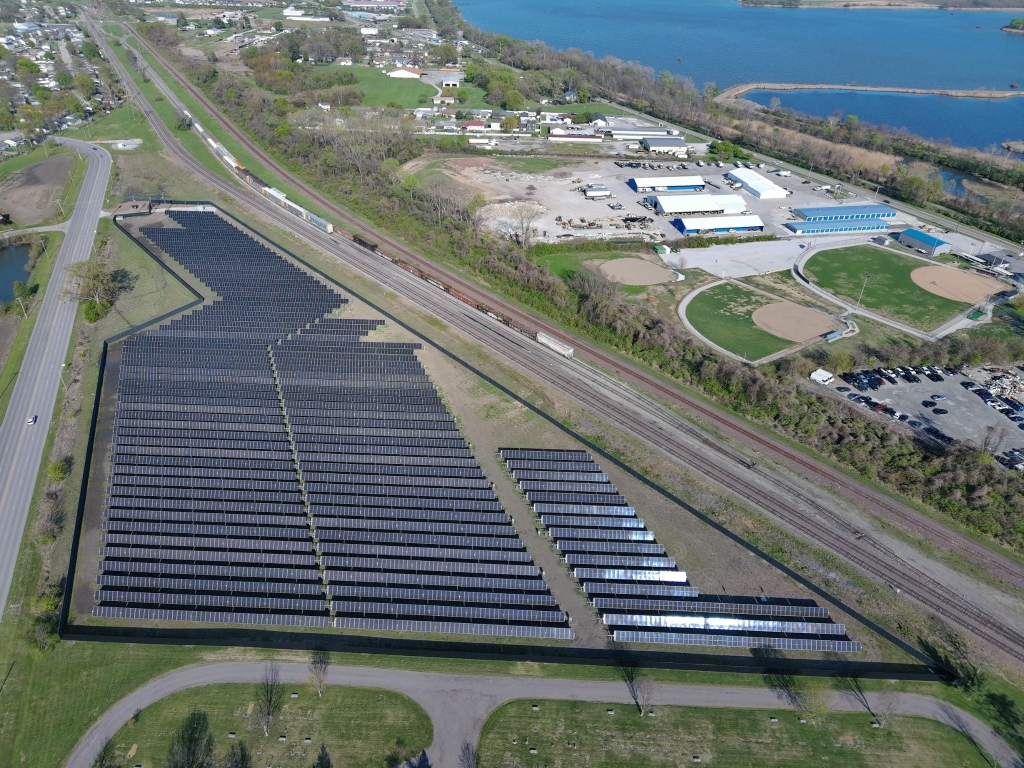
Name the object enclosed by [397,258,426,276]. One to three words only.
rail car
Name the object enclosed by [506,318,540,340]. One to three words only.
rail car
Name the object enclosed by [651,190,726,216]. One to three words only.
building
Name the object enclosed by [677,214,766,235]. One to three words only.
shed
